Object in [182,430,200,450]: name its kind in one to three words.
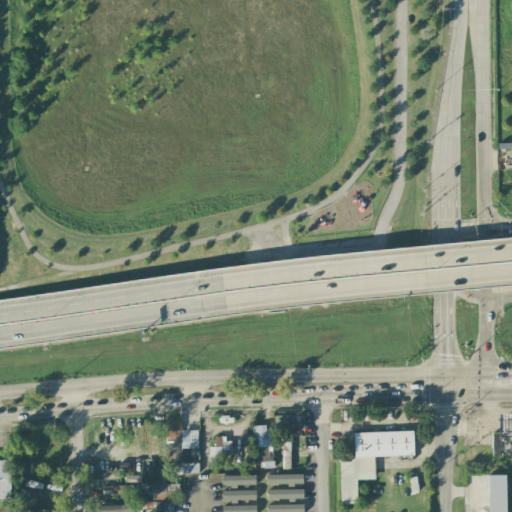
building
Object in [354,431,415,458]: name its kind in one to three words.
building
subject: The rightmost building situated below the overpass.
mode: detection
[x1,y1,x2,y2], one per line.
[470,474,508,512]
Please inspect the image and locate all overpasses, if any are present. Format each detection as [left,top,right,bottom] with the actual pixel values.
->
[0,237,512,348]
